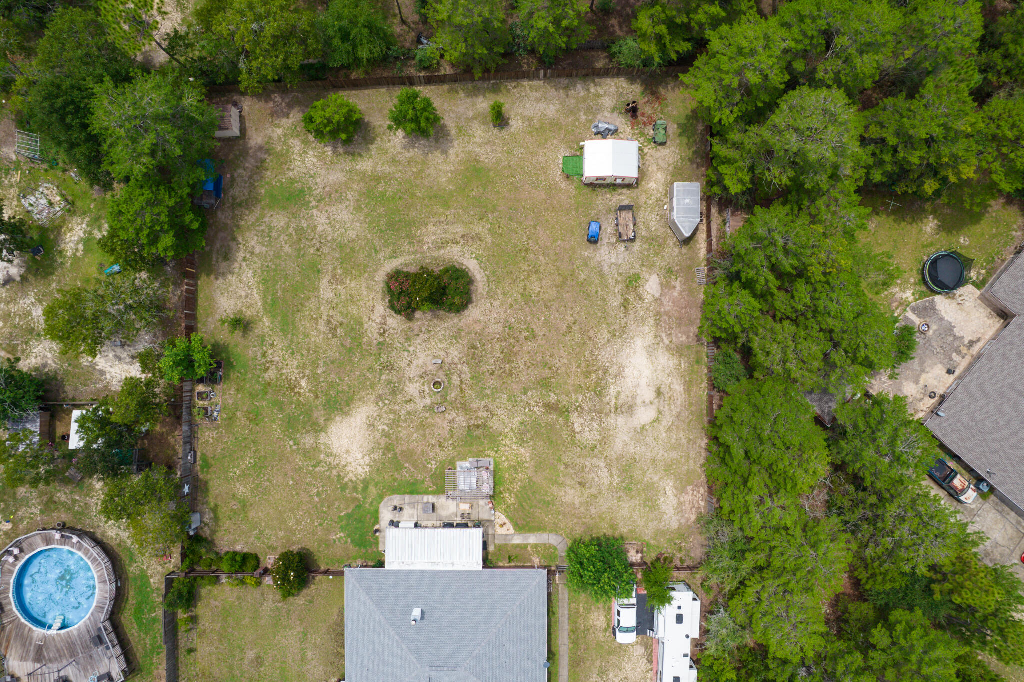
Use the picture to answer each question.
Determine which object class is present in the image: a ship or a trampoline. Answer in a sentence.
The image shows a trampoline.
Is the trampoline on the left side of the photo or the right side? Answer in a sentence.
The trampoline is on the right side of the image.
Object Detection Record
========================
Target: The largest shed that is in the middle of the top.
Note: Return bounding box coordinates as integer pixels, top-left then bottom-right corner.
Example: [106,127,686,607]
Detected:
[577,138,643,184]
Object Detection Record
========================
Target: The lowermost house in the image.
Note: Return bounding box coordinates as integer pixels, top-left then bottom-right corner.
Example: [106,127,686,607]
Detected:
[344,563,550,682]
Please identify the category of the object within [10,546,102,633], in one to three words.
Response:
swimming pool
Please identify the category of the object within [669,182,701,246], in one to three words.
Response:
trailer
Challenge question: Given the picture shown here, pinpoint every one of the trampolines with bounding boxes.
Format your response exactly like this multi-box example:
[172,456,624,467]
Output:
[920,248,977,295]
